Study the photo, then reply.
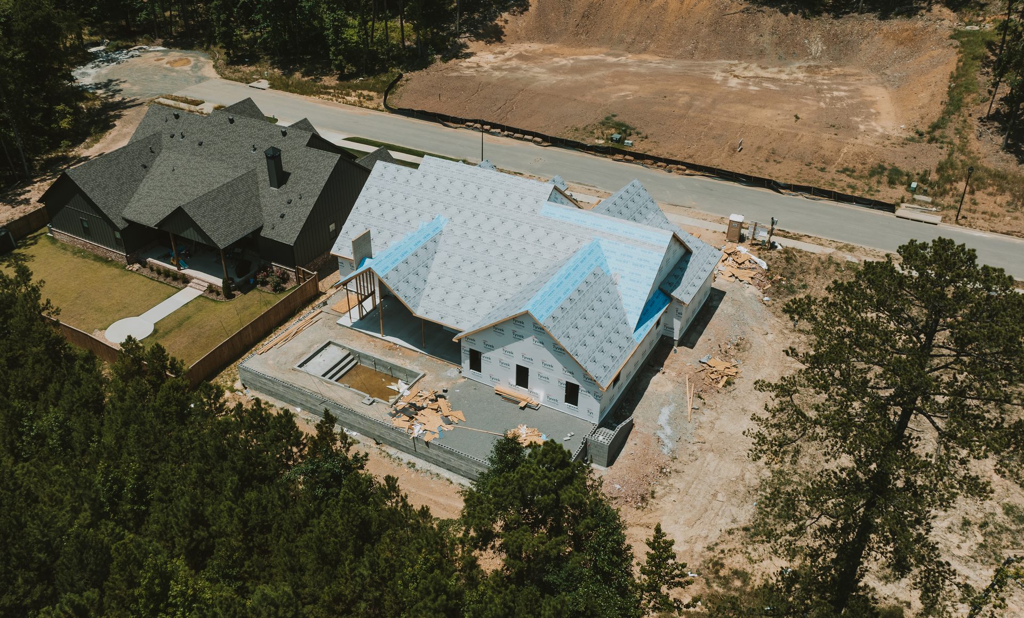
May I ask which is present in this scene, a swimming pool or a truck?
swimming pool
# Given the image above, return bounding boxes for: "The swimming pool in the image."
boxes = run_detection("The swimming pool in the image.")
[293,339,424,406]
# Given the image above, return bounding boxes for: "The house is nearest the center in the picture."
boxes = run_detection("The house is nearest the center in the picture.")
[329,155,724,426]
